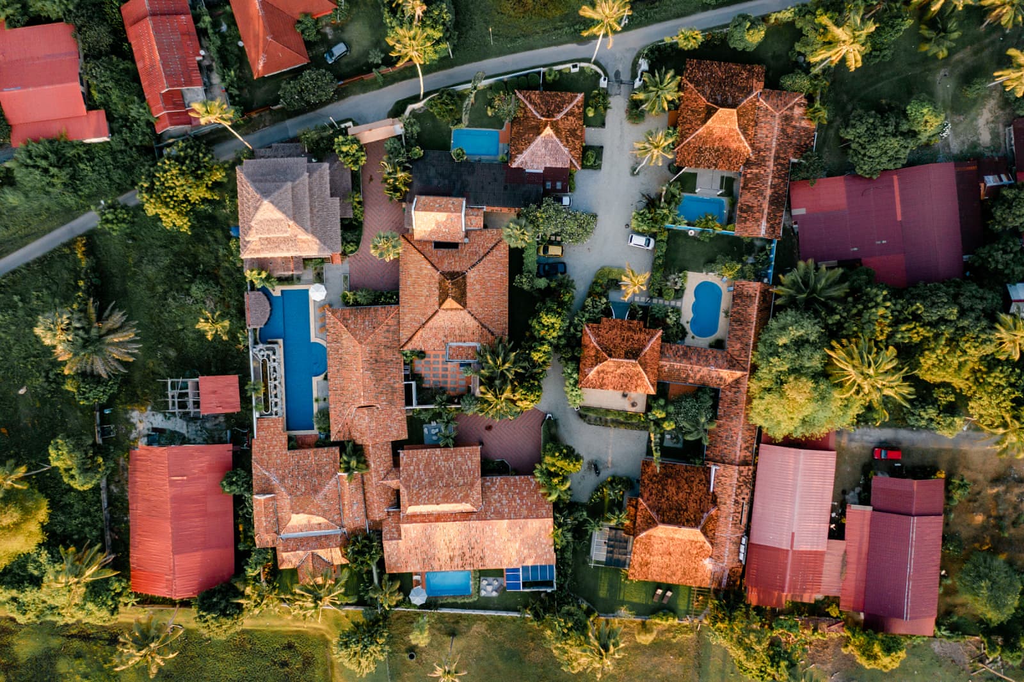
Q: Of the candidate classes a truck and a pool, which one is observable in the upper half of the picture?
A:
pool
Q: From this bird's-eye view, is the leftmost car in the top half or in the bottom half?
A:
top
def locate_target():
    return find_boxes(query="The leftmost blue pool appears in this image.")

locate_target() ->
[249,276,328,438]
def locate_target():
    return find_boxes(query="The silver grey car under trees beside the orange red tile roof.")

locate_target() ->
[322,41,350,63]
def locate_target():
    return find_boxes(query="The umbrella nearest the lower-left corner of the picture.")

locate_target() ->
[409,586,428,604]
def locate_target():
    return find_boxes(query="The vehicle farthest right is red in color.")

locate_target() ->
[873,447,902,462]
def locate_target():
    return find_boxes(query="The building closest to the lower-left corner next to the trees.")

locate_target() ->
[130,444,239,600]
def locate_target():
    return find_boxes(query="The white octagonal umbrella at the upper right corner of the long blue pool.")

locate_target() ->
[310,284,328,302]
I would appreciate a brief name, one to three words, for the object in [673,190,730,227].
swimming pool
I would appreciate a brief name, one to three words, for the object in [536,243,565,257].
car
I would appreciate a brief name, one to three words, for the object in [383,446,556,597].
house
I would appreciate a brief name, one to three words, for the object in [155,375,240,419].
shed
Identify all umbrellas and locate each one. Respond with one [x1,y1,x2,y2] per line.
[409,586,428,604]
[310,284,328,302]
